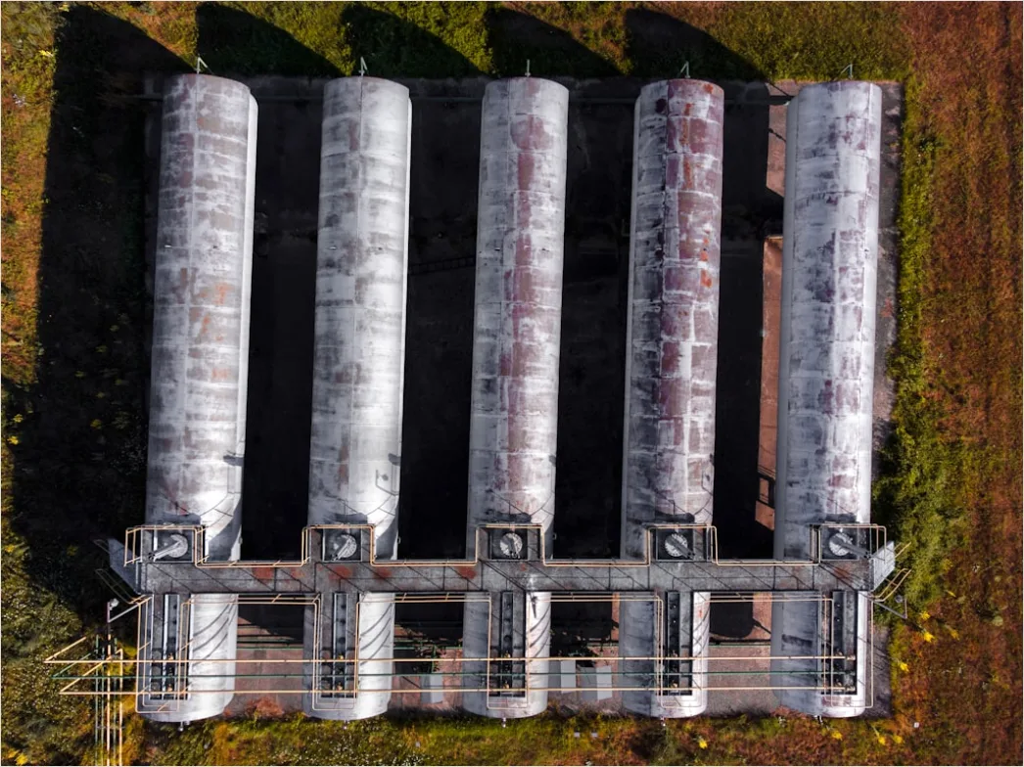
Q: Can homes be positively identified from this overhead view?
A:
No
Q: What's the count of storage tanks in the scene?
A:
5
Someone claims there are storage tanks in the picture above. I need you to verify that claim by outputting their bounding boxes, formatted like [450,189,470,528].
[768,65,882,721]
[302,61,413,724]
[461,63,568,723]
[131,59,267,725]
[620,64,725,722]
